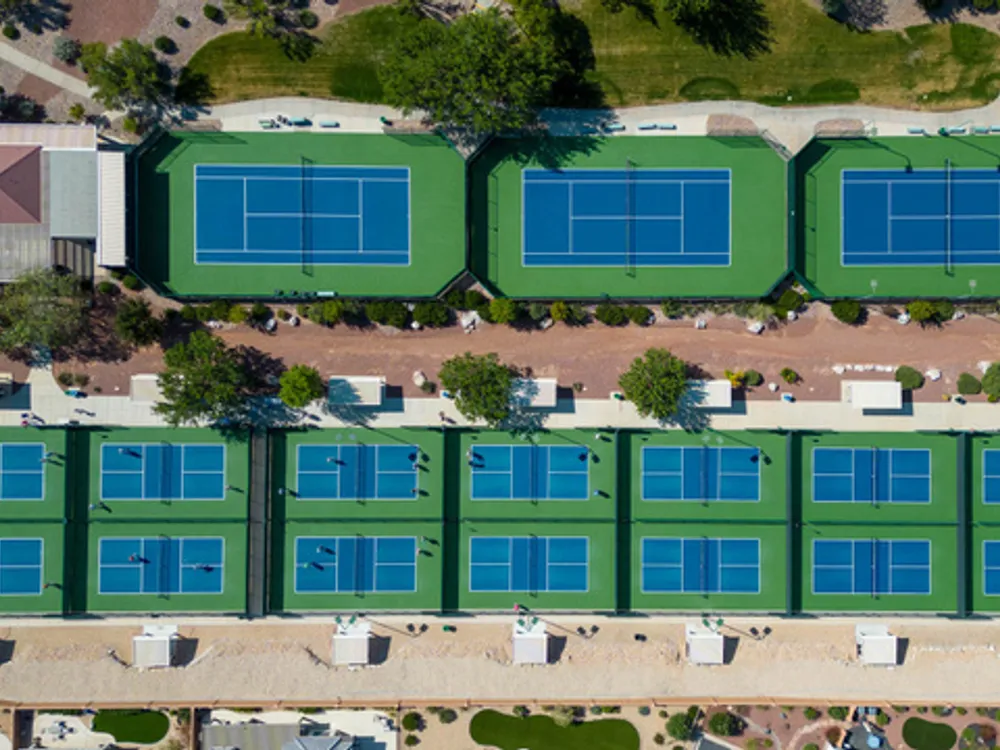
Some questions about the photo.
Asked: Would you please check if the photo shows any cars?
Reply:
No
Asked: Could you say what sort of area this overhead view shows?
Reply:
sports ground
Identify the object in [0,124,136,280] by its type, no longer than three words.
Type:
building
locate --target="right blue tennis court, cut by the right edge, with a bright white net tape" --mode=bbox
[794,138,1000,299]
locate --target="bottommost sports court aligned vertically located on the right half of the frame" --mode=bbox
[966,526,1000,612]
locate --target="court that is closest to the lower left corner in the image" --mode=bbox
[0,522,65,611]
